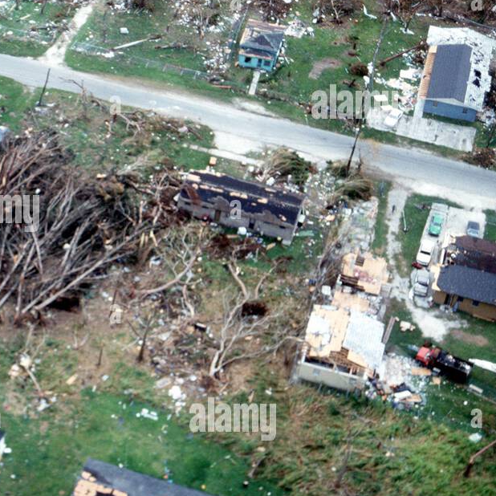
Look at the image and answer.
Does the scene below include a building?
Yes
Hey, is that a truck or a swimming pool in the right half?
truck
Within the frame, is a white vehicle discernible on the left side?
No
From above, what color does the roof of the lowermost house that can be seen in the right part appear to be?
white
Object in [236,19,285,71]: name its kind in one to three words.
house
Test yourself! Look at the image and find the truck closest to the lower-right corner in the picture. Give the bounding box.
[412,351,481,395]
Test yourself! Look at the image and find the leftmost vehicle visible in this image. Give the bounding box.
[383,109,407,128]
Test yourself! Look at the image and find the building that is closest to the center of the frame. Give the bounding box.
[177,169,305,239]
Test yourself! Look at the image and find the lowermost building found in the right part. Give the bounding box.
[296,305,383,395]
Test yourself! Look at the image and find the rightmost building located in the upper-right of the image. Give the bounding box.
[417,27,496,126]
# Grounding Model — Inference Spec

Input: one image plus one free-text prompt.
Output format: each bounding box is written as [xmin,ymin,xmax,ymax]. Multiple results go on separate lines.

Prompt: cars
[418,238,436,267]
[427,210,445,237]
[383,109,407,128]
[465,216,482,240]
[411,270,431,300]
